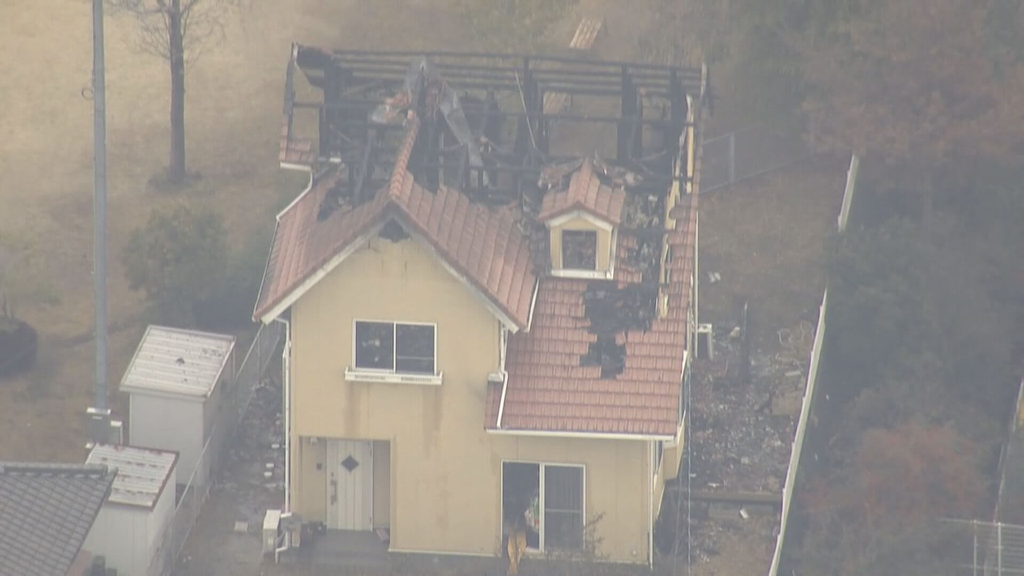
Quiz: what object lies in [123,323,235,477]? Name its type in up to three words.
shed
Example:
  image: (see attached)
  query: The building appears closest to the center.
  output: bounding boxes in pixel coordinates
[249,44,706,576]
